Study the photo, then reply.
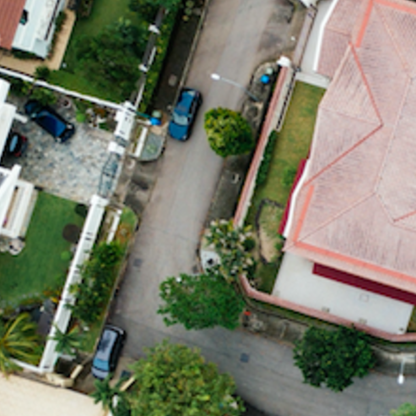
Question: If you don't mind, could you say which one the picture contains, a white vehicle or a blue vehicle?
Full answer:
The one in the frame is a blue vehicle.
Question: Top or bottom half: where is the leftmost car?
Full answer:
The leftmost car is in the top half of the image.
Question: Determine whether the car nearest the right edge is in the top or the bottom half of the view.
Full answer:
The top half of the photo is where the car nearest the right edge is.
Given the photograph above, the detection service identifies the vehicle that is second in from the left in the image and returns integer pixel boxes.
[23,99,81,142]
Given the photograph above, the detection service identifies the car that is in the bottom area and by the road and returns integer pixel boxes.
[91,322,128,380]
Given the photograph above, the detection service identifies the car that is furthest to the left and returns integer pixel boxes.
[4,130,31,157]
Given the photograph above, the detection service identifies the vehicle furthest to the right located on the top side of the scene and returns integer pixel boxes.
[167,86,202,142]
